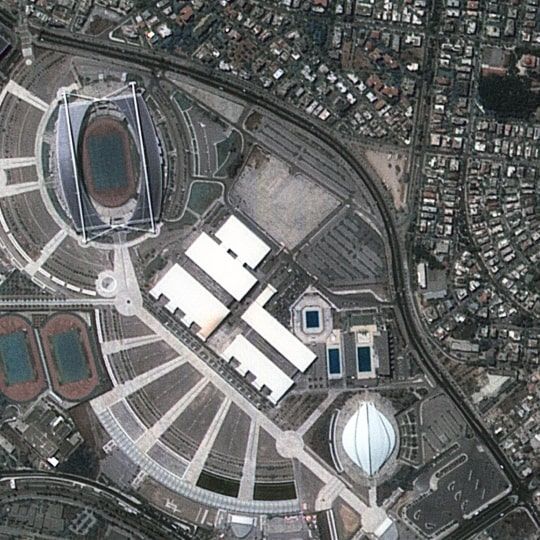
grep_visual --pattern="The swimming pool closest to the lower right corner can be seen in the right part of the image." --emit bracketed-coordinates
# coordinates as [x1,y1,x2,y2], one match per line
[358,345,375,378]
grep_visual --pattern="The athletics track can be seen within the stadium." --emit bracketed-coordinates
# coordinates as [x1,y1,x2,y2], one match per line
[81,117,136,209]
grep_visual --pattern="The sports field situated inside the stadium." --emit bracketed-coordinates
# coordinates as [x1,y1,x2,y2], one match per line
[88,133,128,191]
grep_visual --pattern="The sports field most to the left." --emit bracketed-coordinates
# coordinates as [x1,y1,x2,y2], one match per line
[0,330,35,384]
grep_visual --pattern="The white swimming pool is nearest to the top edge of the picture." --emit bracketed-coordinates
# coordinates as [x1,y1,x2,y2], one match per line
[302,306,323,334]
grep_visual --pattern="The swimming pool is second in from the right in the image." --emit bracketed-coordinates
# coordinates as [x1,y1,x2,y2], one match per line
[326,346,342,378]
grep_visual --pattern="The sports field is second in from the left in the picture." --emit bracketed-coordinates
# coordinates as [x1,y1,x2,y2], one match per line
[52,330,89,383]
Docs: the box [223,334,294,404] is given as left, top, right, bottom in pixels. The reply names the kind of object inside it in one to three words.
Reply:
building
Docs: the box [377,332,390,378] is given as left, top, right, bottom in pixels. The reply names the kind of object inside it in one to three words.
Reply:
building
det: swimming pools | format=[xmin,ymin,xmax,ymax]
[358,345,375,378]
[326,346,342,378]
[302,306,323,334]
